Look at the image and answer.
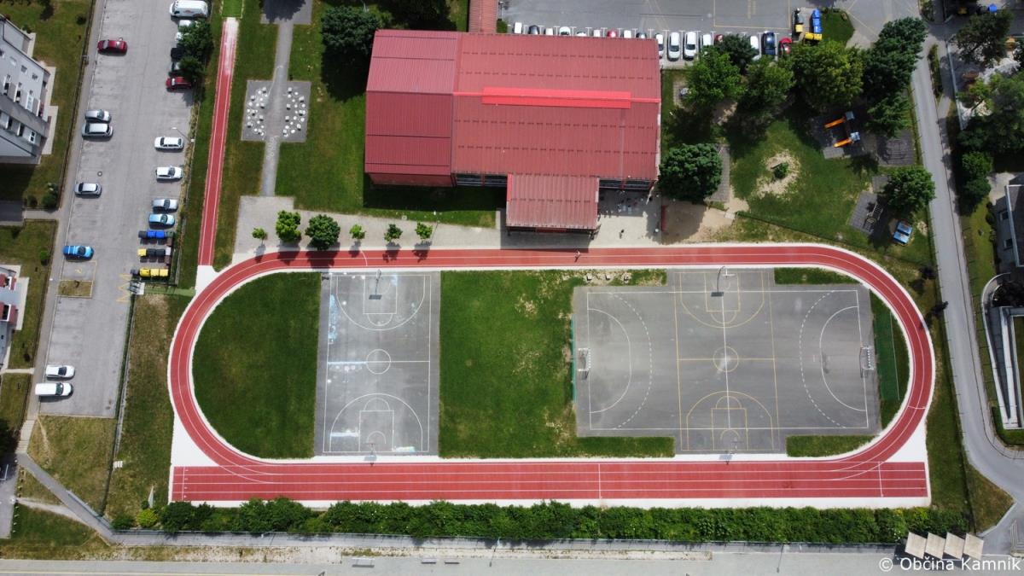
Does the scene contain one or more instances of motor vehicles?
Yes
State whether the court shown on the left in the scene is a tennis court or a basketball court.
basketball court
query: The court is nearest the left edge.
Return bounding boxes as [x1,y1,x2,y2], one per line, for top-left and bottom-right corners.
[314,271,441,456]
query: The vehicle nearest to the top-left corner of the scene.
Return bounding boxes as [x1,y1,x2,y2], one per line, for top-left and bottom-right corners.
[97,39,128,53]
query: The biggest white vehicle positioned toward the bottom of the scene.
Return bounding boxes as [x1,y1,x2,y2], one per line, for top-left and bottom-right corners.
[32,381,76,397]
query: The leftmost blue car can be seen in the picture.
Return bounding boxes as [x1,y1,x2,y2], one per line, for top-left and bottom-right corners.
[61,245,95,259]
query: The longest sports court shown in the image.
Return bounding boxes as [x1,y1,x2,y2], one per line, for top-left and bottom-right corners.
[573,283,880,437]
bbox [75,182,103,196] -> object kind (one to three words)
car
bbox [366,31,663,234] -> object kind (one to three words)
building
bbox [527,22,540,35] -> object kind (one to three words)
vehicle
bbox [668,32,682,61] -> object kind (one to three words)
car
